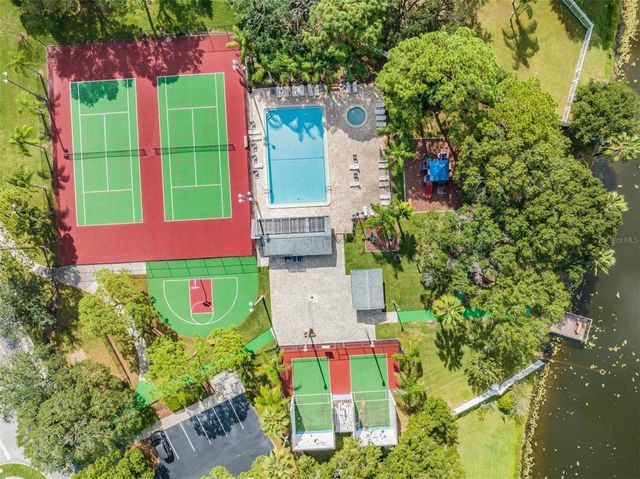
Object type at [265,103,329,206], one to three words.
swimming pool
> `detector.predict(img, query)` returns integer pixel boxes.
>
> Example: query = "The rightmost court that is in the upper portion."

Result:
[150,34,254,262]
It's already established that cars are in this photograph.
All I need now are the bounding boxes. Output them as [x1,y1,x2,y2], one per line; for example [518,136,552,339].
[151,434,171,465]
